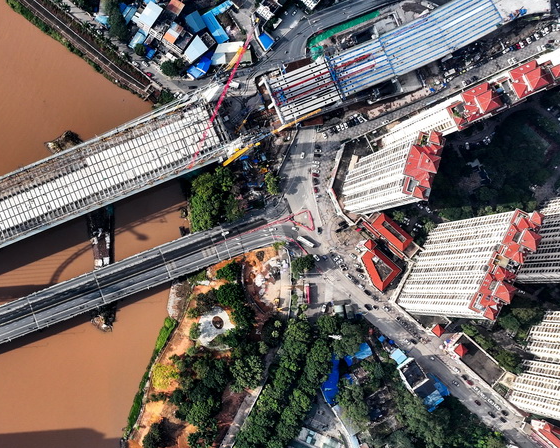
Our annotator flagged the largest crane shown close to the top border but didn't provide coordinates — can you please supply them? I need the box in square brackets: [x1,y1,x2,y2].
[190,11,260,168]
